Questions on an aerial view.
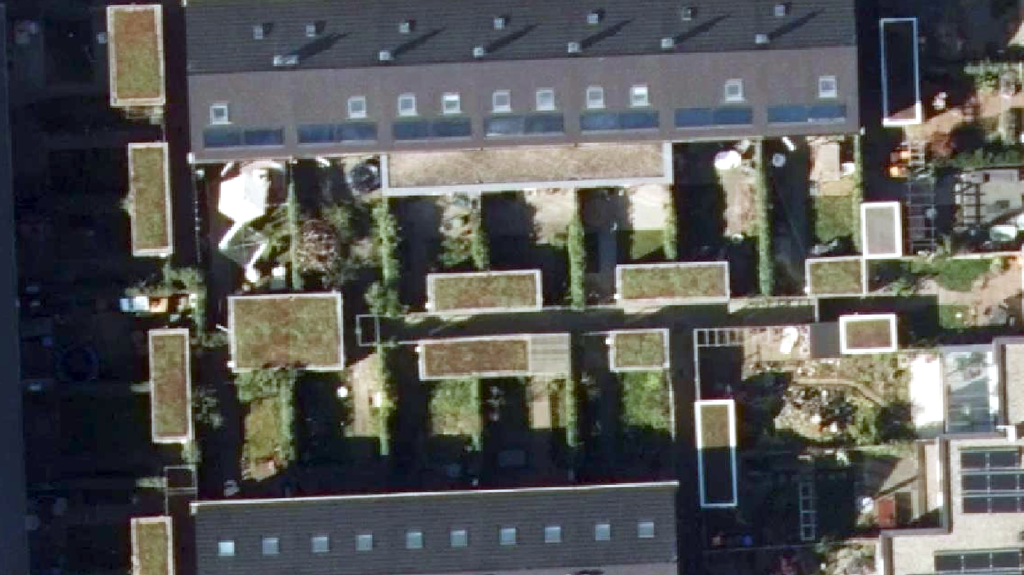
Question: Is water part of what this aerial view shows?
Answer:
No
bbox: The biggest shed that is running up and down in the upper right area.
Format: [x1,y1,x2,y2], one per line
[881,18,921,124]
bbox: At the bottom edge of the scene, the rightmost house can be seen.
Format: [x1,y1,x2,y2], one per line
[876,439,1024,575]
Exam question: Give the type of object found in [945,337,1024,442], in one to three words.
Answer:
house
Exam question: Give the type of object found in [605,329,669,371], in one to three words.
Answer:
shed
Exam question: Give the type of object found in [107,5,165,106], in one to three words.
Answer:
shed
